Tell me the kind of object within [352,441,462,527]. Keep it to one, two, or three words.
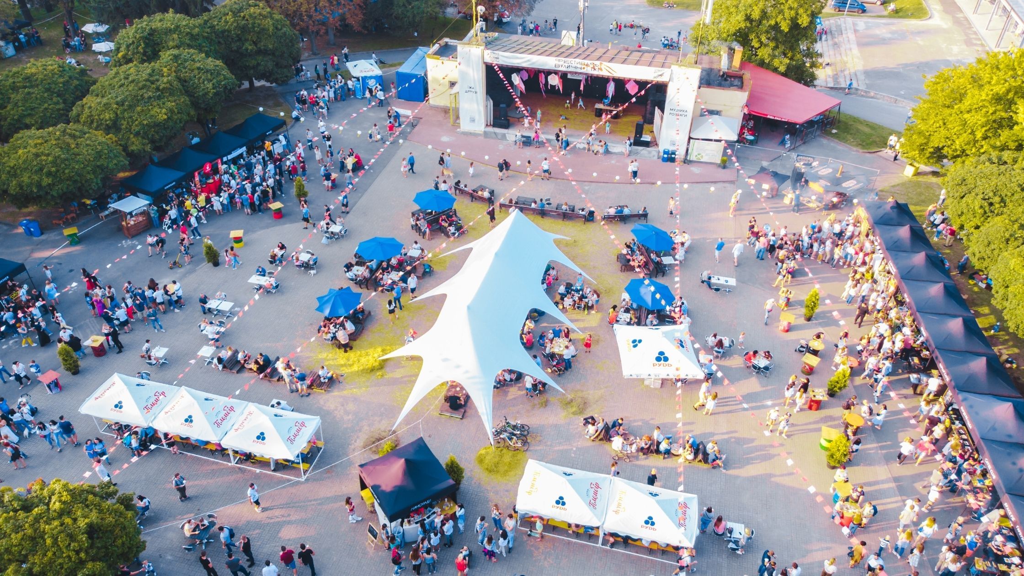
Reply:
tent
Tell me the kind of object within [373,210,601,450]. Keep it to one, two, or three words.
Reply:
tent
